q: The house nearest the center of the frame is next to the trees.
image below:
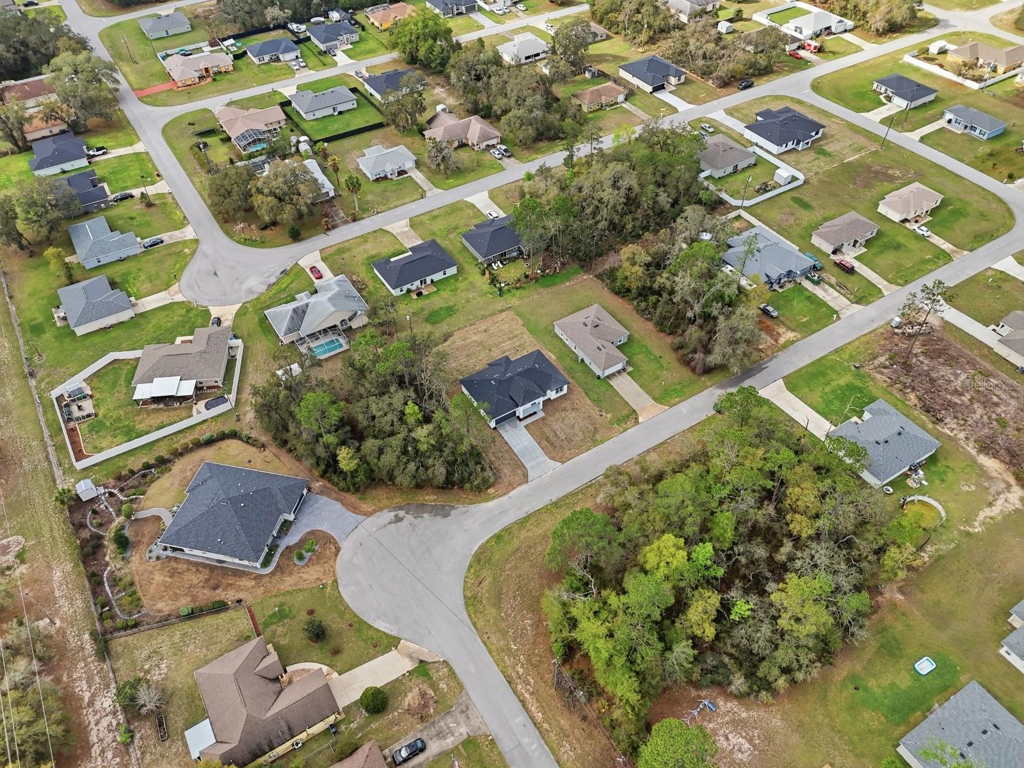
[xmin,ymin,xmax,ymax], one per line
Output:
[459,348,572,428]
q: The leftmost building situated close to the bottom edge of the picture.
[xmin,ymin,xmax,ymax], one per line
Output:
[193,639,338,768]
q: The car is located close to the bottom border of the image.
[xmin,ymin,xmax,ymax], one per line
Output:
[389,732,429,768]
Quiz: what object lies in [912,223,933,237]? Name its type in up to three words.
car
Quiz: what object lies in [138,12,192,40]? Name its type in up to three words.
house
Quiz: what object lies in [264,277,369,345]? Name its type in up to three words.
building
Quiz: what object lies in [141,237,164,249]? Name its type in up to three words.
vehicle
